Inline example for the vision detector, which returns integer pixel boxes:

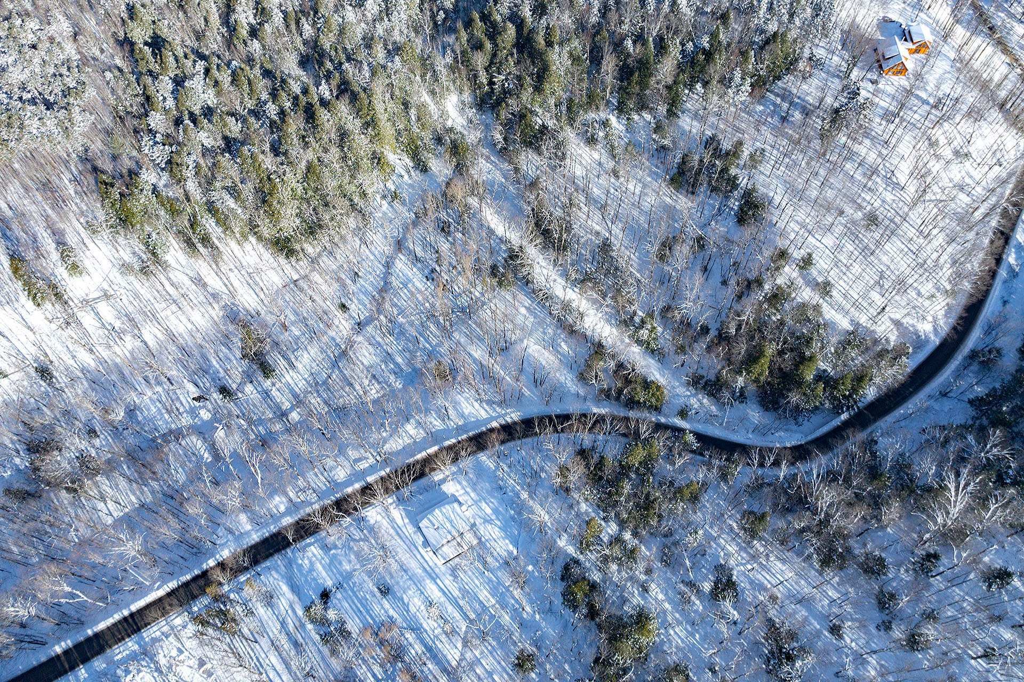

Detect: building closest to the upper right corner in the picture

[894,22,935,56]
